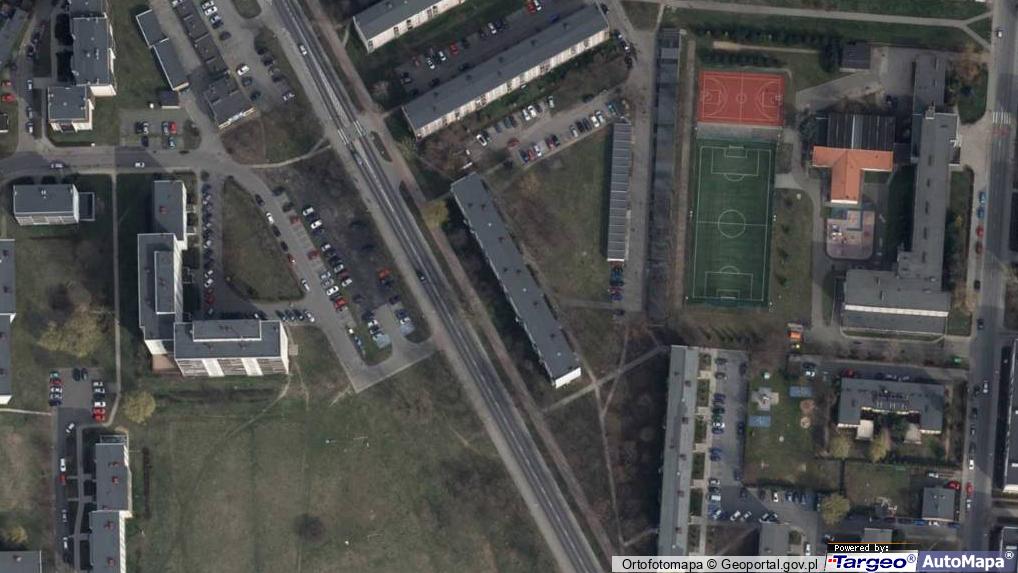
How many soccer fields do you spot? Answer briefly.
1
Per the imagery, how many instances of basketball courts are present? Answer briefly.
1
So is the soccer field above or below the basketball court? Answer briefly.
below it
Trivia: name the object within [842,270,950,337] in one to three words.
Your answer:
building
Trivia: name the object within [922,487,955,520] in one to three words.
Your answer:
house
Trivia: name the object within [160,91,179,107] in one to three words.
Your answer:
shed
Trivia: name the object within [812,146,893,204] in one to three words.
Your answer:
building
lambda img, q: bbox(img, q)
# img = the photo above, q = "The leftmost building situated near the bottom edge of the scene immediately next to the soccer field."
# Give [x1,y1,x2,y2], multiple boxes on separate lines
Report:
[655,346,701,573]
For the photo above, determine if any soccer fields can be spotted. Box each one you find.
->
[687,122,783,306]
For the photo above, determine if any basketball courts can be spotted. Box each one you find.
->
[698,71,784,127]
